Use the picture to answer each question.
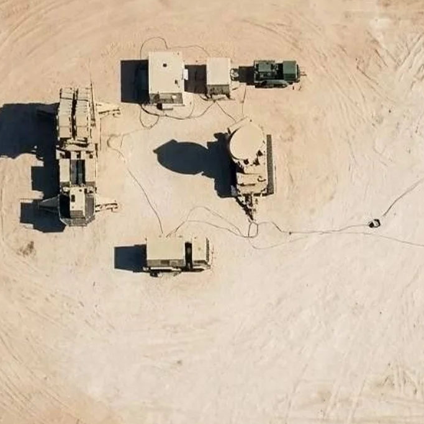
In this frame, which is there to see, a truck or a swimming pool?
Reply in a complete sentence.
I can see a truck in this picture.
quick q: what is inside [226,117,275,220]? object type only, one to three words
trailer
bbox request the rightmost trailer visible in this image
[254,58,307,87]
